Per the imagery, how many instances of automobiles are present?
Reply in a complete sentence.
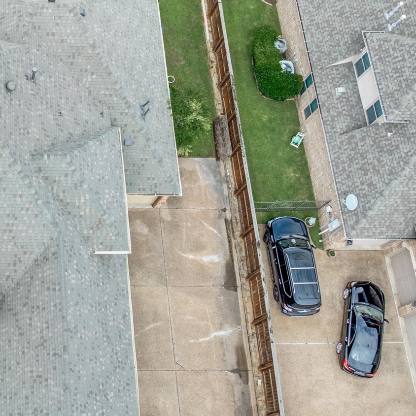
I count 2 automobiles.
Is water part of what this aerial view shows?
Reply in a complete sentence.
No, there's no water in this view.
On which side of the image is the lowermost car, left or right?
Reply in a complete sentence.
The lowermost car appears in the right half of the scene.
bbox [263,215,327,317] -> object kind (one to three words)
car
